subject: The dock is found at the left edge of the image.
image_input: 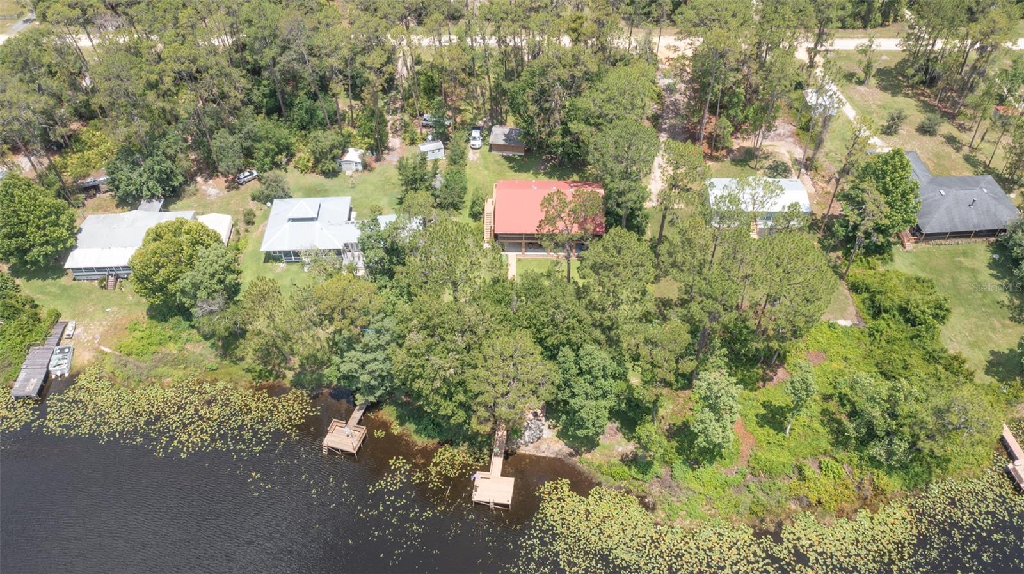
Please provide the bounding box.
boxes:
[11,322,66,406]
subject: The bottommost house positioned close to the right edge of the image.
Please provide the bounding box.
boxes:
[861,151,1024,254]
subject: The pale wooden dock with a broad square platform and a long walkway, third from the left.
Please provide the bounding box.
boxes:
[473,425,514,513]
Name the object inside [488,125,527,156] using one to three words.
shed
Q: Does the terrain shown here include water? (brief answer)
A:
Yes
